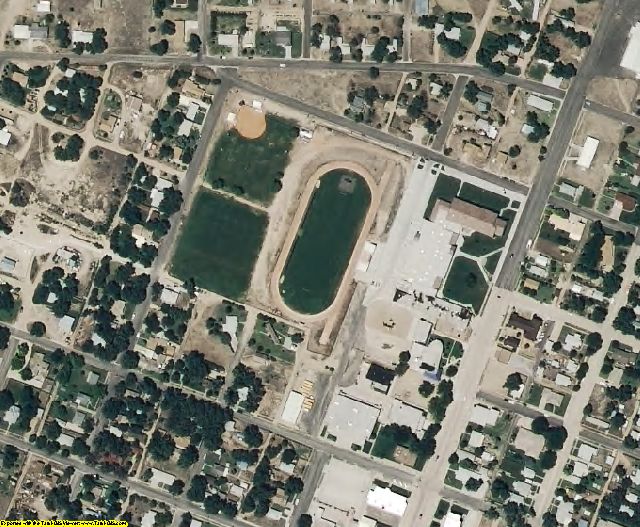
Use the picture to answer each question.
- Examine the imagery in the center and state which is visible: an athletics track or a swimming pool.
athletics track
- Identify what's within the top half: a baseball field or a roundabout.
baseball field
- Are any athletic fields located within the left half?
Yes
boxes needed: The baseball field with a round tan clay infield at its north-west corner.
[204,106,300,207]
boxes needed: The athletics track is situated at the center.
[271,159,379,344]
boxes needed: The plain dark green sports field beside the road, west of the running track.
[171,189,266,299]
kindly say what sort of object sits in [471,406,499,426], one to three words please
house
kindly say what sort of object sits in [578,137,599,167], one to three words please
building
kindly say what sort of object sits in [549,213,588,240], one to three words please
house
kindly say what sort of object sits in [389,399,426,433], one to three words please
building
